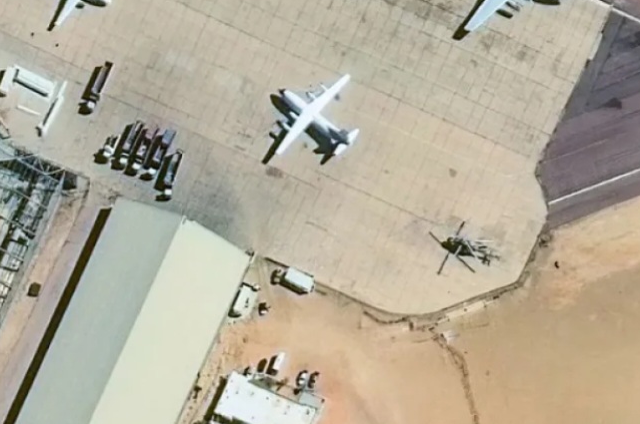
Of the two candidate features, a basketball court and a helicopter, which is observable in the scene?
helicopter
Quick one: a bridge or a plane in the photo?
plane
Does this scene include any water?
No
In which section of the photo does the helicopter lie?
right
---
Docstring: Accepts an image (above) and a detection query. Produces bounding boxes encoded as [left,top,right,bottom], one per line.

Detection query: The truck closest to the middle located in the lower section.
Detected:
[278,269,313,293]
